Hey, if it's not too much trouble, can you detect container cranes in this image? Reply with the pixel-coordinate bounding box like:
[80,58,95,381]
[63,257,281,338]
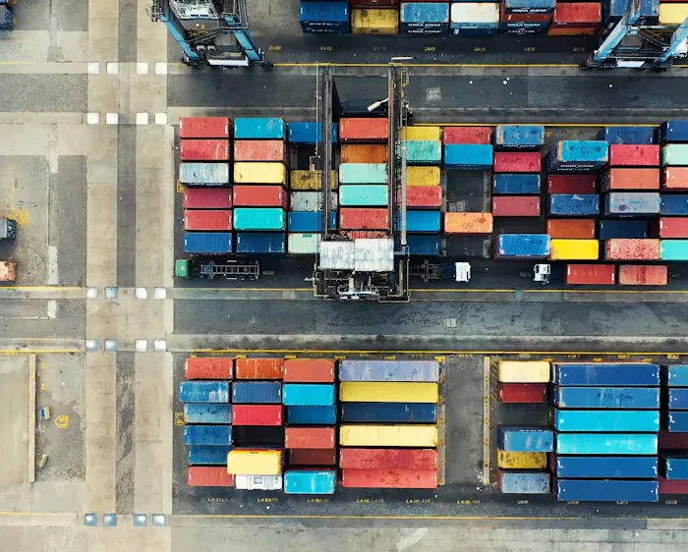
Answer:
[152,0,283,71]
[301,58,424,311]
[579,0,688,74]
